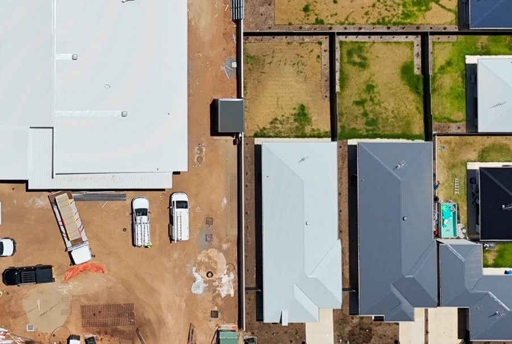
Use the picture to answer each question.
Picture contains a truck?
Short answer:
Yes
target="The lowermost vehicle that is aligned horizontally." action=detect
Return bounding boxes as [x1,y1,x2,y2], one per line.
[3,263,56,288]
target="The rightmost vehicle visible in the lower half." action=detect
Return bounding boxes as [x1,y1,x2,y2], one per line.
[169,192,192,246]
